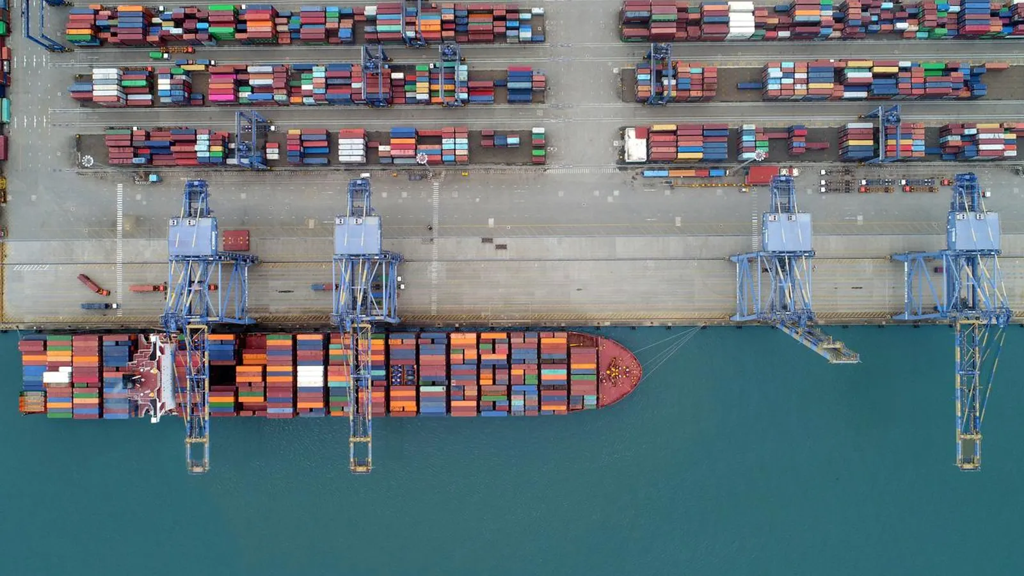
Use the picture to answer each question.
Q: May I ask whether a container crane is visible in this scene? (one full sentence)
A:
Yes, there is a container crane in the image.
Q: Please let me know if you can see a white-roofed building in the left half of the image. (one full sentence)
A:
No, there's no white-roofed building to be seen in the left half of the image.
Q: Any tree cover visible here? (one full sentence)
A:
No, no tree cover is visible.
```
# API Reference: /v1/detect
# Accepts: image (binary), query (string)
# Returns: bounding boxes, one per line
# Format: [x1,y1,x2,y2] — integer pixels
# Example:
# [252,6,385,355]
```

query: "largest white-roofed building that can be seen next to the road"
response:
[624,128,647,163]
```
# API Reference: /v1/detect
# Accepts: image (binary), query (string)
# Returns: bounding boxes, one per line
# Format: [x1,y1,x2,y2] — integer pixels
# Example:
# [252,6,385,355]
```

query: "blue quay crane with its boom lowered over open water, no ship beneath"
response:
[890,173,1014,472]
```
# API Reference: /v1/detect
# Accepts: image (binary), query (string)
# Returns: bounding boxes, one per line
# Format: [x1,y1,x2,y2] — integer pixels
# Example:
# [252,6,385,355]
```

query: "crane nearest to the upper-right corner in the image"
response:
[857,102,902,162]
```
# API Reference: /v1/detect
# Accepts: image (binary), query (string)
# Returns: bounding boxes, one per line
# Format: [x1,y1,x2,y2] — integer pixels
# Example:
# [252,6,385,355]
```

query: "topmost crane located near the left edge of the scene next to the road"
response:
[21,0,72,51]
